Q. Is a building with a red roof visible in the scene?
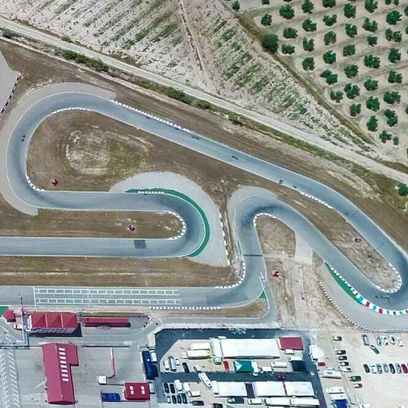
Yes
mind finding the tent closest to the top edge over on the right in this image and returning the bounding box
[219,339,280,360]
